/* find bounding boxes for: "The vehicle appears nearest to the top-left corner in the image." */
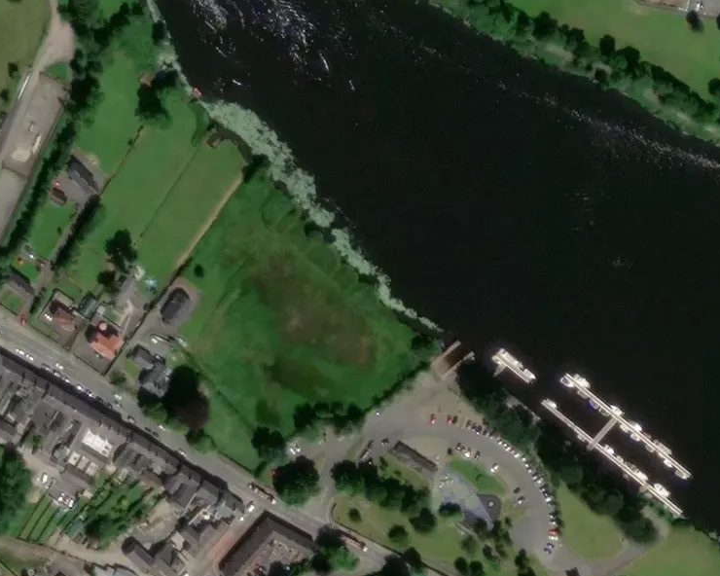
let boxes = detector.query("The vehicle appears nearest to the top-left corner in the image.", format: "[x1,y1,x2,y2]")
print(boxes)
[17,74,30,100]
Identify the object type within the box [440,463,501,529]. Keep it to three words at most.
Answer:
playground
